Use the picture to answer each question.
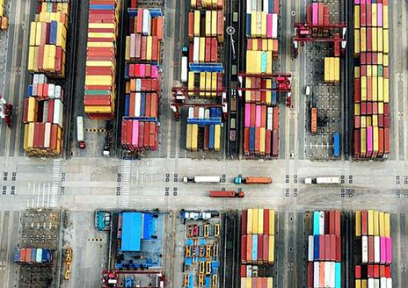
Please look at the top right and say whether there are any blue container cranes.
No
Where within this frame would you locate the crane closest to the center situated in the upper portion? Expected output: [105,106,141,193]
[169,88,229,125]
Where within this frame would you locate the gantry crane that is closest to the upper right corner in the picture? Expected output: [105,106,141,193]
[293,21,349,62]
